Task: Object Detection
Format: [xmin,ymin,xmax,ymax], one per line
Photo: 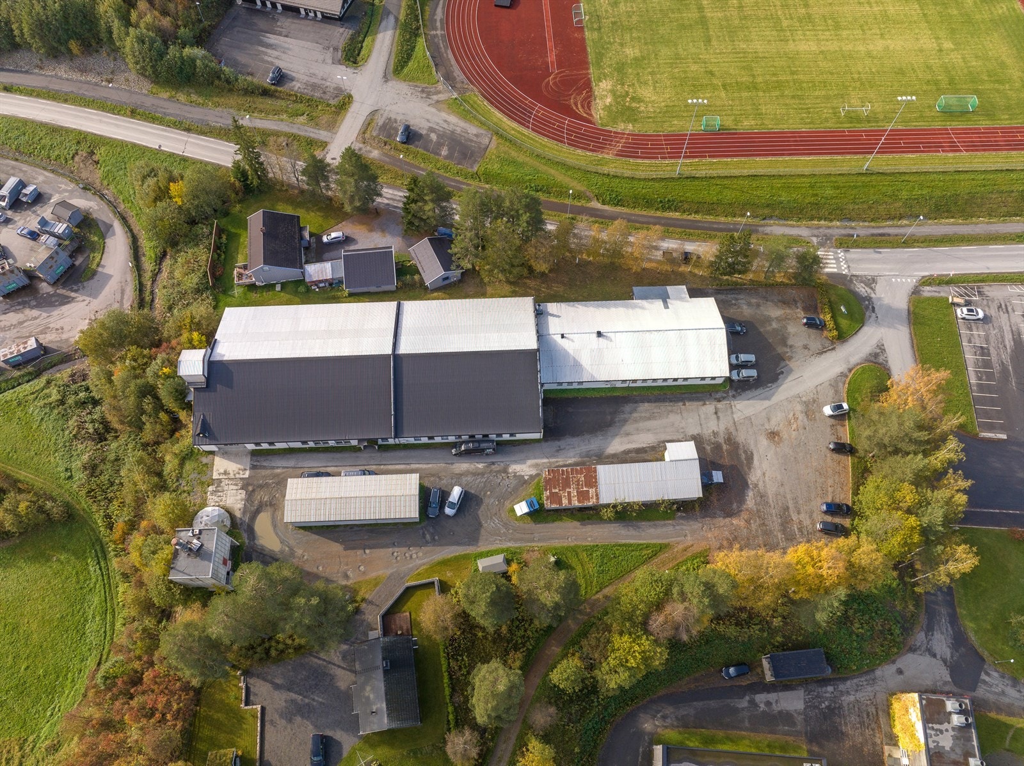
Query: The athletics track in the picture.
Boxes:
[445,0,1024,160]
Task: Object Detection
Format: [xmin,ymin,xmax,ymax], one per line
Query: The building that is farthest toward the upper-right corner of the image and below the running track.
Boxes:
[537,284,730,391]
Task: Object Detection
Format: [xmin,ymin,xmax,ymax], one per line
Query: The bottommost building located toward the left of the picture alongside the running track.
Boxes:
[176,298,544,457]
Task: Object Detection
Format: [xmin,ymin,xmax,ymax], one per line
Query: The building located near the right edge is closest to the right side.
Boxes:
[889,690,985,766]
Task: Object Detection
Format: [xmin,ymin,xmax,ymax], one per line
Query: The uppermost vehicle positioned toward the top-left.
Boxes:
[268,66,283,85]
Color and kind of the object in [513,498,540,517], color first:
white vehicle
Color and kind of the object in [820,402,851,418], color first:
white car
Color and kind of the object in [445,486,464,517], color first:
white car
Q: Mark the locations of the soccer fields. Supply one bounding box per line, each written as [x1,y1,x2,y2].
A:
[583,0,1024,133]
